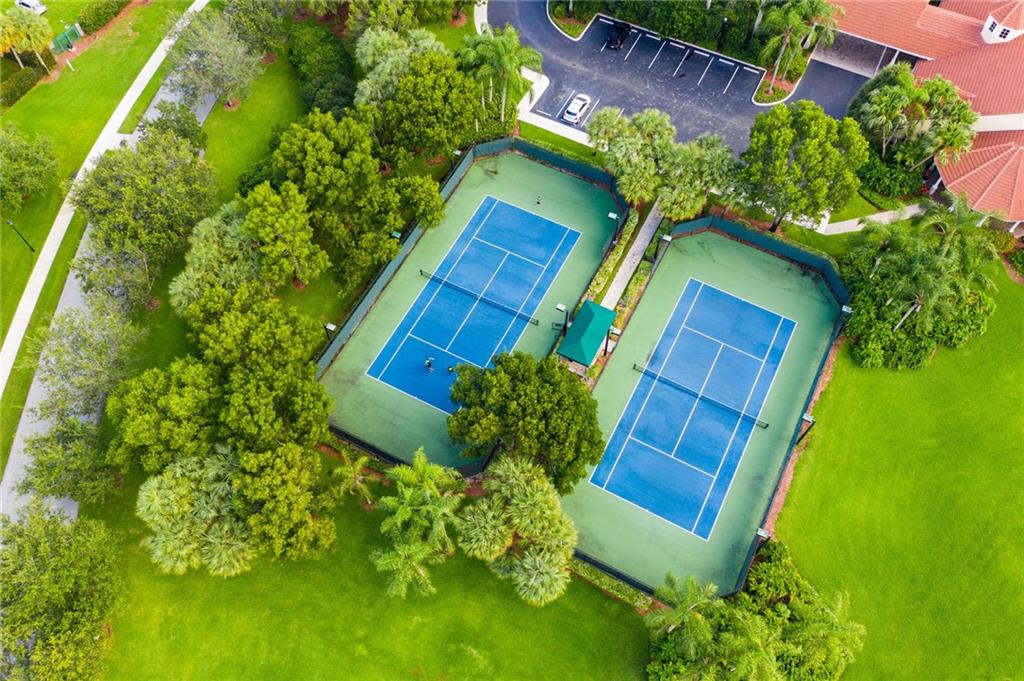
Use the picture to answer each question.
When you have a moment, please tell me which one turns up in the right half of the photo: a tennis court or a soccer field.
tennis court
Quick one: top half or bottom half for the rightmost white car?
top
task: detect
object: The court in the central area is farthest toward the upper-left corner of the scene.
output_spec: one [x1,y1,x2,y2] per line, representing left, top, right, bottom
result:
[312,149,631,493]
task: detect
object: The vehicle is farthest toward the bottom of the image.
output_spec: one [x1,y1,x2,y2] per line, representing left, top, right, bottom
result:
[563,90,590,120]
